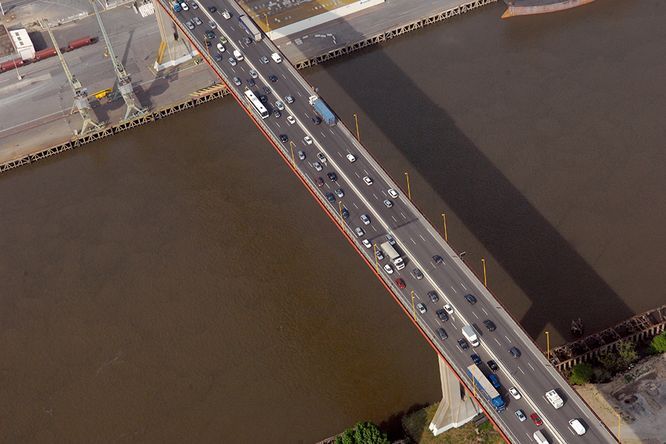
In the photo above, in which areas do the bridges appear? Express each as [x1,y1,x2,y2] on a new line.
[155,0,624,444]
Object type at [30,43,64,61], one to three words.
rail car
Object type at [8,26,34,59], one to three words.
building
